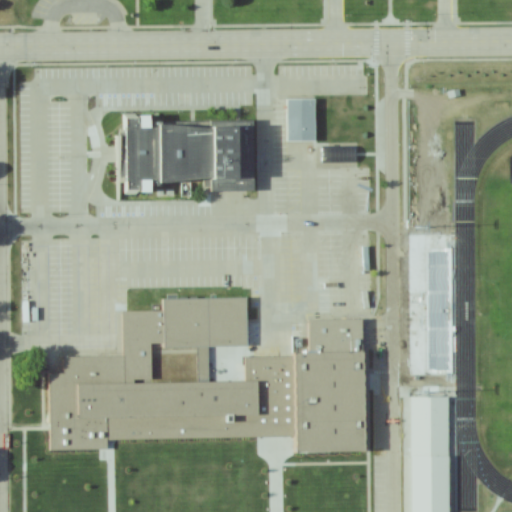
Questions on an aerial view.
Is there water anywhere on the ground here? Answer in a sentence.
No, water can't be seen anywhere here.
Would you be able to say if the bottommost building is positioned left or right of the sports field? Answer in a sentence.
You can see the bottommost building positioned to the left of the sports field.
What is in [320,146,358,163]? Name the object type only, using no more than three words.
shed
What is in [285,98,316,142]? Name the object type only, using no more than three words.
shed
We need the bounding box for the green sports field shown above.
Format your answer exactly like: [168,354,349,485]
[476,138,512,480]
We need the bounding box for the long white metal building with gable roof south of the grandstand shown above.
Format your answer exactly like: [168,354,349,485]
[408,397,450,512]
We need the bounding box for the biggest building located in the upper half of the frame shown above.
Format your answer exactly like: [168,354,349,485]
[114,114,256,200]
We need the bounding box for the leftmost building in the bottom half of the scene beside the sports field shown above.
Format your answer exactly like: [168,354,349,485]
[49,298,366,452]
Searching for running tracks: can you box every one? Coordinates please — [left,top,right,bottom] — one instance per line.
[456,116,512,509]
